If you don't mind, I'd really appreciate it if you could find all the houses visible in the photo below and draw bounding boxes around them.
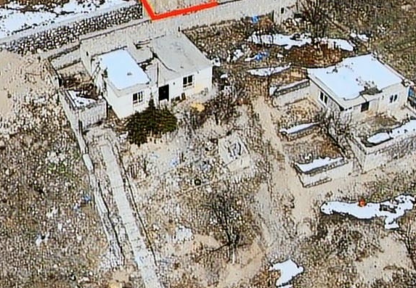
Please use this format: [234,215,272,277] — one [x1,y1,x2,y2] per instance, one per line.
[92,32,217,118]
[306,52,410,125]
